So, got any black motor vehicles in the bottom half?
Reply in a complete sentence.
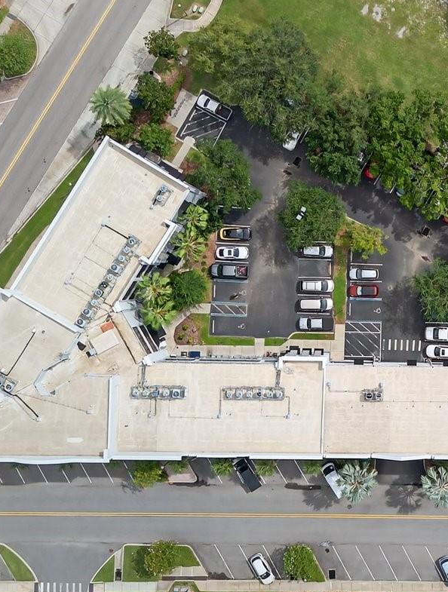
Yes, a black motor vehicle shows up in the bottom half.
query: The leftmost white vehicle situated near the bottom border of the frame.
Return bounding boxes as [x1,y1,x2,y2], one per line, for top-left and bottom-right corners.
[250,551,275,584]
